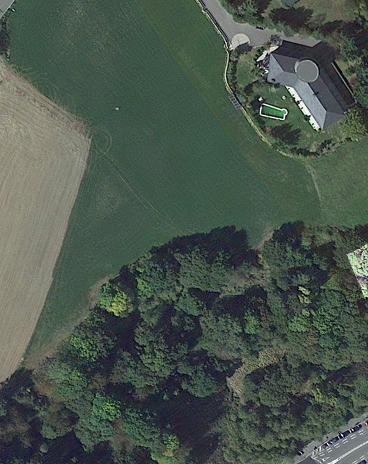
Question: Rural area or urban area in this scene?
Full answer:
From above, the setting appears rural.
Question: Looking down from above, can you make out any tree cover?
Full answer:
Yes, tree cover can be seen from above here.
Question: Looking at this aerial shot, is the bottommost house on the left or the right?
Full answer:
It is on the right.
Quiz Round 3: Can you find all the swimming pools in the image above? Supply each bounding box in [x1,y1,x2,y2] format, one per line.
[261,106,286,119]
